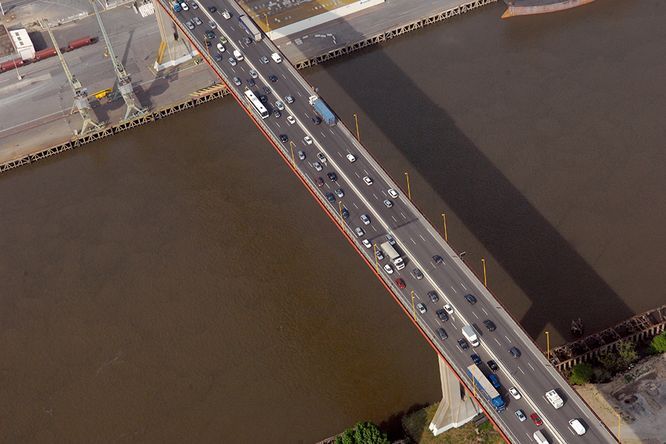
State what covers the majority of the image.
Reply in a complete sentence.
The scene is dominated by water.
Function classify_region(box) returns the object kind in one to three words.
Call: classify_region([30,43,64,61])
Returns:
rail car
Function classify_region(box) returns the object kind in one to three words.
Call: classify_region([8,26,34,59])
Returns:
building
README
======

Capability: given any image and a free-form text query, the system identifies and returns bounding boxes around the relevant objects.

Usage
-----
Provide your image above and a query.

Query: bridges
[155,0,624,444]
